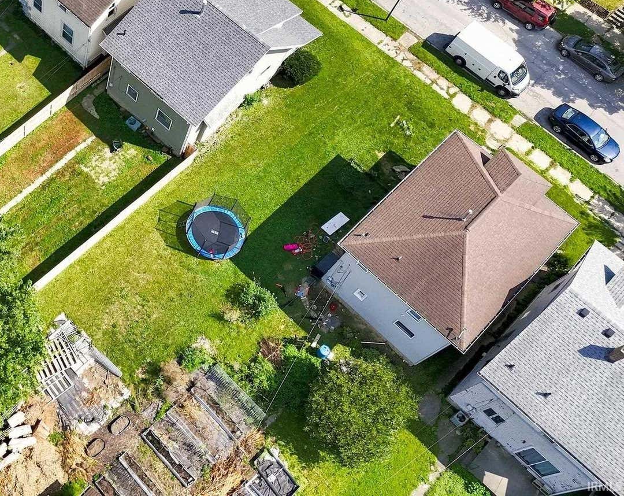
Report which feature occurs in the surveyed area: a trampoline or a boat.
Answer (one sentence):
Of the two, only a trampoline appears.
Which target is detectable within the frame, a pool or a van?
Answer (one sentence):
It is a van that can be seen here.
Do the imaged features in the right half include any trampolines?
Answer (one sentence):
No, I see no trampoline in the right half.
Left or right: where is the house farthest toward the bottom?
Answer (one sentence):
You can find the house farthest toward the bottom on the right side of the picture.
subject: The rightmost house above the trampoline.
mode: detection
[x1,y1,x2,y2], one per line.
[99,0,320,154]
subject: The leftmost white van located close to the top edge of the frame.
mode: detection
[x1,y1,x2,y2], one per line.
[450,22,536,101]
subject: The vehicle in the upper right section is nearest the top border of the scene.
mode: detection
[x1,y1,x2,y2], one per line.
[493,0,558,32]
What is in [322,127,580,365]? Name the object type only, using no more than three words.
house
